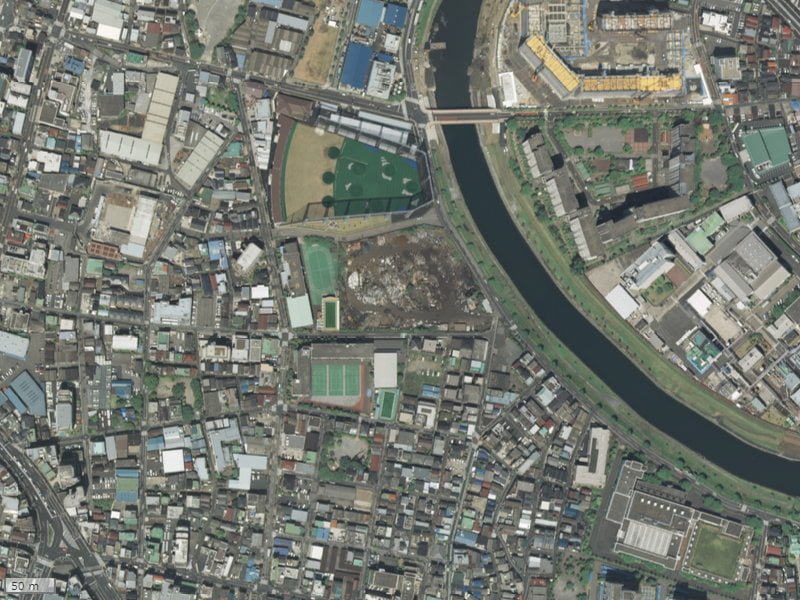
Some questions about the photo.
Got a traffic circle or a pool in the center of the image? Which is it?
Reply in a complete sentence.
Visible in the center of the image is a pool.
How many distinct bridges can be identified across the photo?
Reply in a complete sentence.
Just 1 bridge appears in this view.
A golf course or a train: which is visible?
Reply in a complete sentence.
There is a golf course in the scene.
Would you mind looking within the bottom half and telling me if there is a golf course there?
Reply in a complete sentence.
No, there is no golf course within the bottom half.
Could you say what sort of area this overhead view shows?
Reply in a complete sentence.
The picture captures a residential area.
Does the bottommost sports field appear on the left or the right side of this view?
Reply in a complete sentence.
You can find the bottommost sports field on the right side of the picture.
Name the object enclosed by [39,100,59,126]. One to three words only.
building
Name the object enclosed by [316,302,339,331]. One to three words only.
swimming pool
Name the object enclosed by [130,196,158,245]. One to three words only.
building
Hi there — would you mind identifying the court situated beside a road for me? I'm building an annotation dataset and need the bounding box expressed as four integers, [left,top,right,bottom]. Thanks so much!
[300,362,368,415]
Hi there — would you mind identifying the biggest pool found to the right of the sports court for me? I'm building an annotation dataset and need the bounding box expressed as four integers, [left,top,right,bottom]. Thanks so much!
[376,390,399,422]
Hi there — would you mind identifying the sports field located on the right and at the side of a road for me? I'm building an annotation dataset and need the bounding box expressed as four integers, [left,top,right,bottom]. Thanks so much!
[681,511,753,586]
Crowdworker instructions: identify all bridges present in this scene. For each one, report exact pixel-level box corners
[418,98,503,146]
